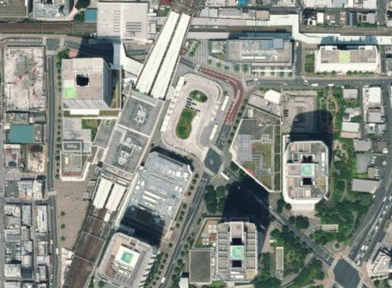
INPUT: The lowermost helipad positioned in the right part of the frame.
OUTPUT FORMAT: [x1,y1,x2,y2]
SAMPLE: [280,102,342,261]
[231,246,244,259]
